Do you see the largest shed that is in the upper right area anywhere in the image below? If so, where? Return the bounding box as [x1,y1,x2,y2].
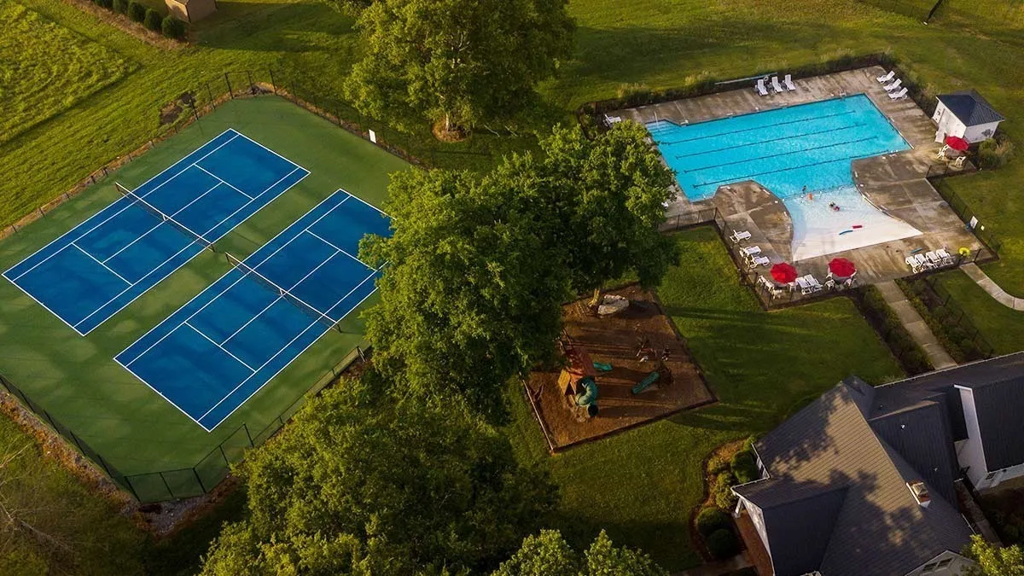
[935,88,1007,140]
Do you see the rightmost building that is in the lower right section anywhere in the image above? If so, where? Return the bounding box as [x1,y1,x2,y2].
[729,351,1024,576]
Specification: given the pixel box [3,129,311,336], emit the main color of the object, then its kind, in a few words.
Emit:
blue tennis court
